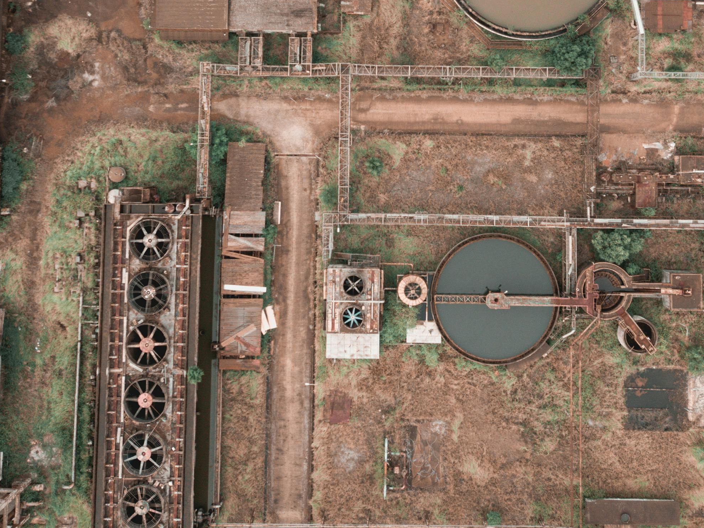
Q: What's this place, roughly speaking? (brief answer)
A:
industrial area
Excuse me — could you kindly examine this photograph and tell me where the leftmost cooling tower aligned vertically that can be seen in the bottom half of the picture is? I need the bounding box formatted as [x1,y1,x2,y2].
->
[93,197,203,528]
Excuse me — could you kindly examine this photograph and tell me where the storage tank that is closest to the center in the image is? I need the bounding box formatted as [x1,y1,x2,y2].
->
[428,235,562,365]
